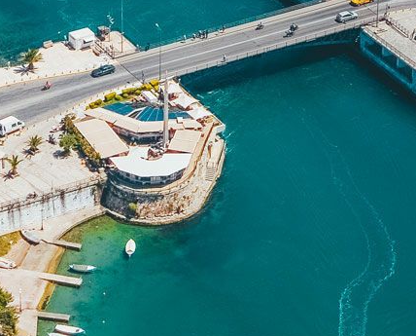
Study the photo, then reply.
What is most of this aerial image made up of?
water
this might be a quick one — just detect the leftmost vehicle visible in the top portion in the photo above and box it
[0,116,24,135]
